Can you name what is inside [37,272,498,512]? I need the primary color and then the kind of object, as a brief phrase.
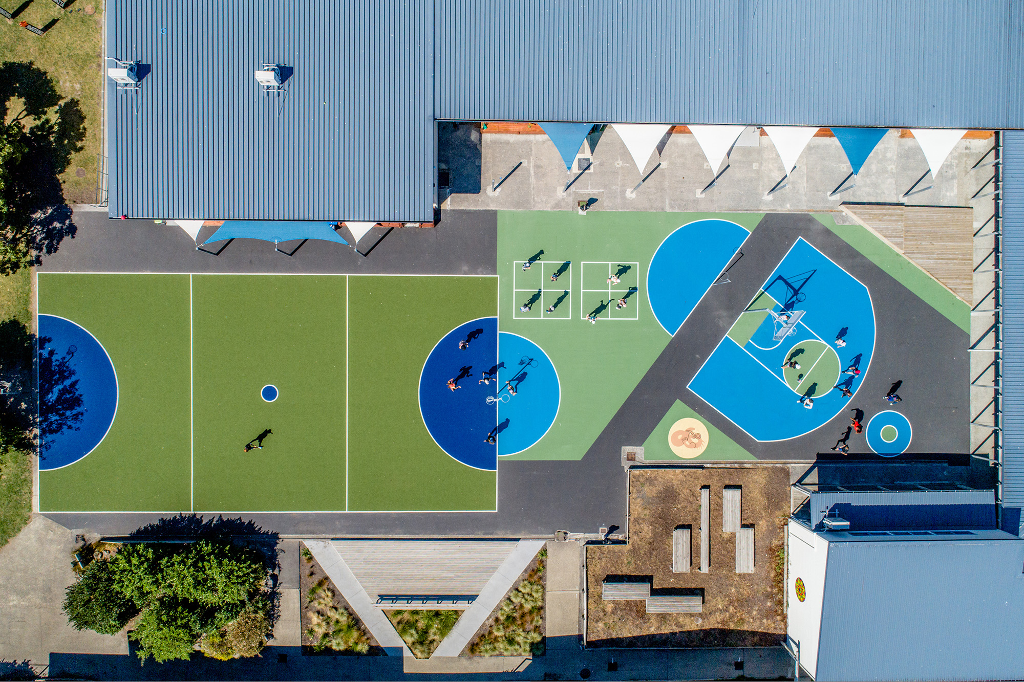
green sports court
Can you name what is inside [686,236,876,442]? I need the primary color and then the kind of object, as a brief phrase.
blue basketball court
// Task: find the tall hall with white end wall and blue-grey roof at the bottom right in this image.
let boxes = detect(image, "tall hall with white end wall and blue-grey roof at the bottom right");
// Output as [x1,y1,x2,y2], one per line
[787,516,1024,682]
